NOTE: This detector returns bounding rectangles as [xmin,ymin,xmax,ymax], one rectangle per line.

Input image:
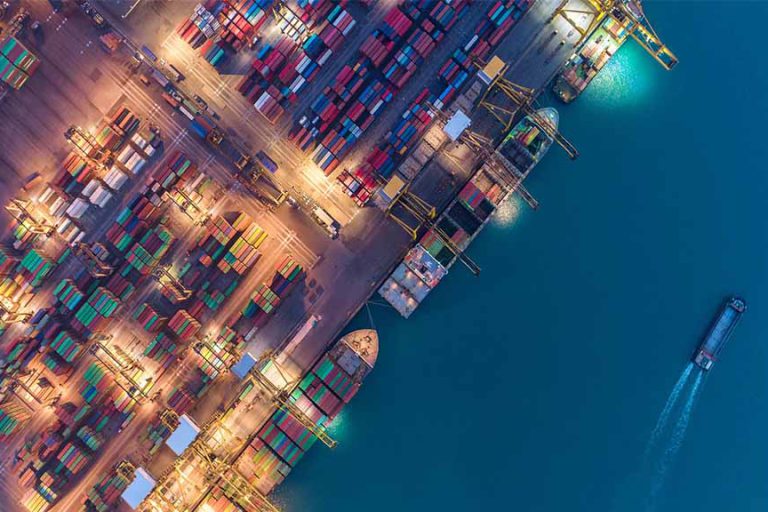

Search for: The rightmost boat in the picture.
[694,298,743,372]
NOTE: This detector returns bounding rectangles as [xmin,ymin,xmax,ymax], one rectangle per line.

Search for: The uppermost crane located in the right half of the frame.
[545,0,679,71]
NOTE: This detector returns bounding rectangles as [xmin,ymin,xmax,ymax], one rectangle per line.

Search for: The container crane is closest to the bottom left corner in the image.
[7,373,64,415]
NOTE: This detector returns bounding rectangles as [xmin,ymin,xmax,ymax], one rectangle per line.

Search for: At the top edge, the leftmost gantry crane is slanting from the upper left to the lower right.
[217,1,263,50]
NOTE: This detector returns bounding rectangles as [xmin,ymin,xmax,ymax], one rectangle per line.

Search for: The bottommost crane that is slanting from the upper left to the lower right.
[158,404,290,512]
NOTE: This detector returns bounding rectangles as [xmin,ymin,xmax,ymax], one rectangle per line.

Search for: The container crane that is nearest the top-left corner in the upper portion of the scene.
[68,129,122,171]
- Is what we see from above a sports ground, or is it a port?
port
